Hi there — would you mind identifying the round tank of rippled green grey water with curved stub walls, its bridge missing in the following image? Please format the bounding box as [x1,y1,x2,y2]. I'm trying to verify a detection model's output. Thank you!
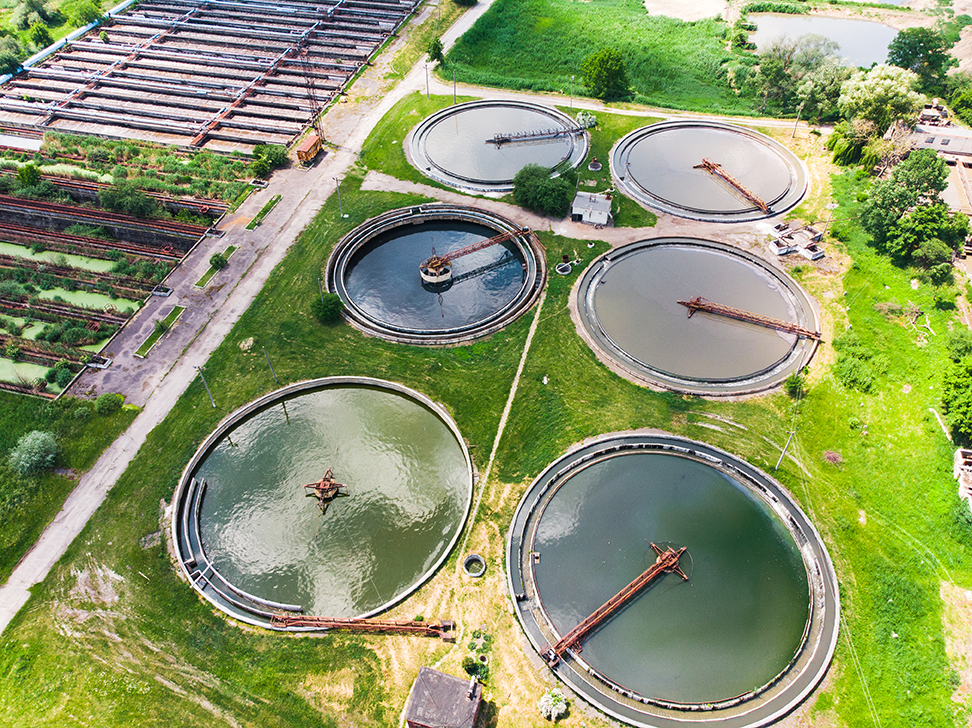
[173,378,473,631]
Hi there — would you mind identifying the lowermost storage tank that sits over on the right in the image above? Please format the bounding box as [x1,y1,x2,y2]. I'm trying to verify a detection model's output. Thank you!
[508,434,838,728]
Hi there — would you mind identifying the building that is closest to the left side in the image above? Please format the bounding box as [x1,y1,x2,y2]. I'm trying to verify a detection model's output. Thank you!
[403,668,483,728]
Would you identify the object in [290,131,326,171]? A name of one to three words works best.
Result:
trailer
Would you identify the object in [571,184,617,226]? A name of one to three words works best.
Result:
building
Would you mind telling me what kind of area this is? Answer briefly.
industrial area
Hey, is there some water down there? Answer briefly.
Yes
